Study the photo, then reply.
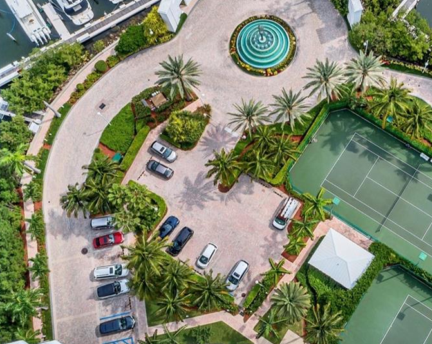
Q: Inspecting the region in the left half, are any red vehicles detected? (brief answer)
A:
Yes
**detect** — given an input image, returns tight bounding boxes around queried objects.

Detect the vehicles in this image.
[149,141,179,163]
[94,264,127,280]
[145,160,175,179]
[168,226,195,255]
[99,315,135,336]
[274,198,298,229]
[156,213,183,242]
[96,281,129,299]
[226,260,250,292]
[92,232,125,249]
[196,241,218,271]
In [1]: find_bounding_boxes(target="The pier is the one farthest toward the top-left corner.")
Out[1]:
[36,0,71,40]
